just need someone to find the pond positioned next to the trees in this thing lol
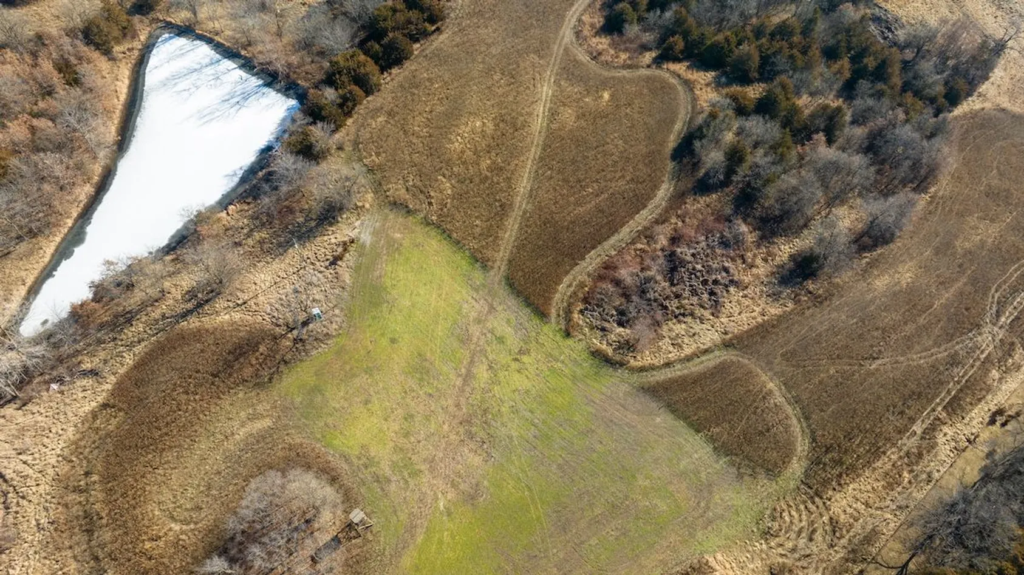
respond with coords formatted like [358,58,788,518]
[9,23,304,342]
